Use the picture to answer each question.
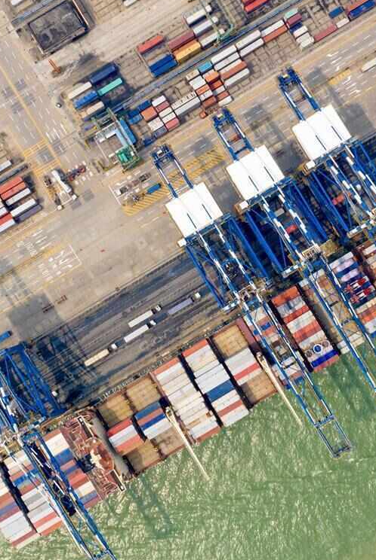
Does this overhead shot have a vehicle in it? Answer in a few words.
Yes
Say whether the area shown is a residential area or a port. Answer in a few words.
port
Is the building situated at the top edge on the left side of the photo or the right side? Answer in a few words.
left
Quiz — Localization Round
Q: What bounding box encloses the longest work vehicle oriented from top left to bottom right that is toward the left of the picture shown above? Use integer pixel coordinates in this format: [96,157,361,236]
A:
[46,52,63,74]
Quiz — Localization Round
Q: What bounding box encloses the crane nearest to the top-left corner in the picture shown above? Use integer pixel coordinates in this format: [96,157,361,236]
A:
[98,103,149,166]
